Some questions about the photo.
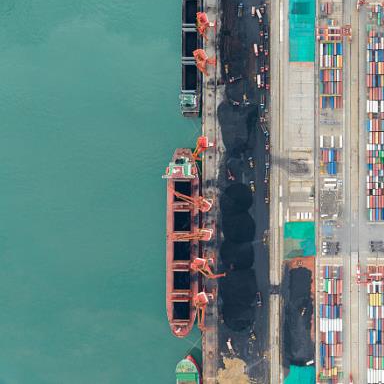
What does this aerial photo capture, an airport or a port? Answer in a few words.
port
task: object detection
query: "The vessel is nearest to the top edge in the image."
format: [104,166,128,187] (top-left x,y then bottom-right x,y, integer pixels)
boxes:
[180,0,202,118]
